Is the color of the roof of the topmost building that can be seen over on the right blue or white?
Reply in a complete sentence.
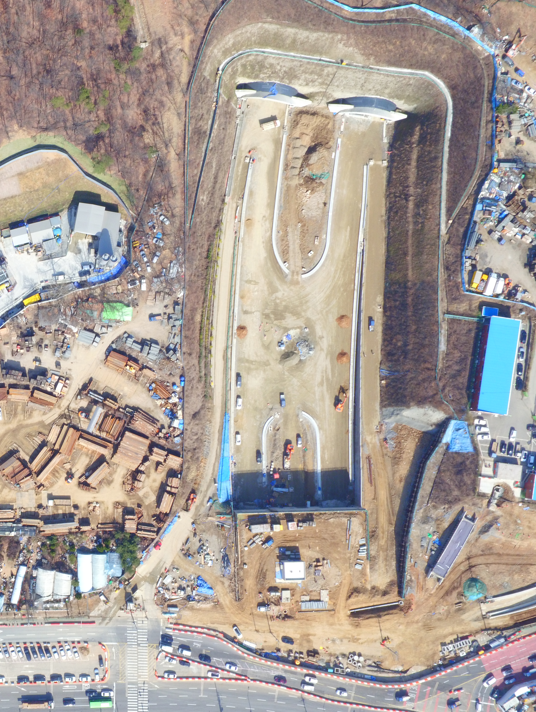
The roof of the topmost building that can be seen over on the right looks blue in the image.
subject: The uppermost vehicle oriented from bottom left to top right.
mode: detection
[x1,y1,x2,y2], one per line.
[506,41,524,57]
